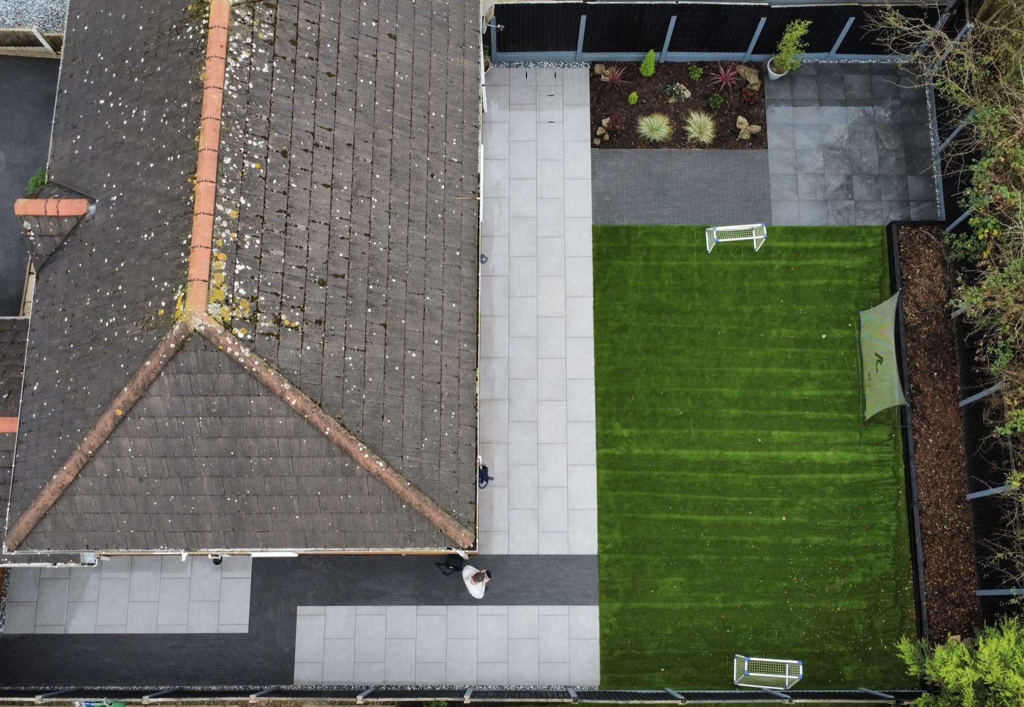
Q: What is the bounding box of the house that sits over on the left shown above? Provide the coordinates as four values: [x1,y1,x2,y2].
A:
[0,0,489,565]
